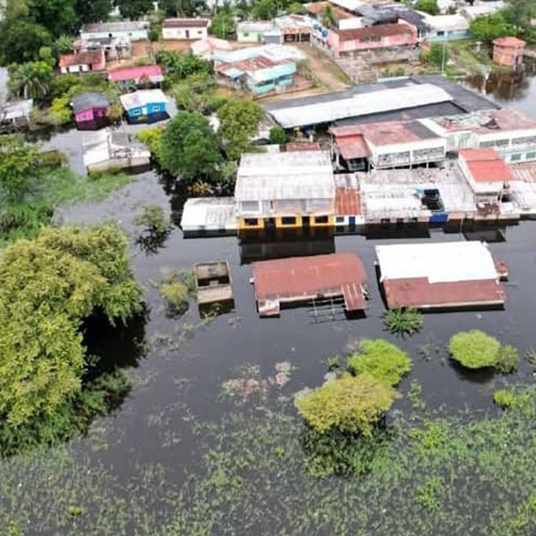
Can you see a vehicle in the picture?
No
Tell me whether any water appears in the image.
Yes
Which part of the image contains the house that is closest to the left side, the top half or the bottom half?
top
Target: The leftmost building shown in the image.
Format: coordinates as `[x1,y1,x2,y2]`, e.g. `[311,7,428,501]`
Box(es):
[3,100,33,128]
